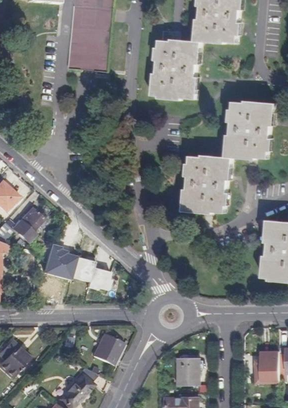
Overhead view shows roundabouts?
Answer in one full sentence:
Yes, the picture does show a roundabout.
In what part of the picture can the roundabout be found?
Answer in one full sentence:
You can find the roundabout in the bottom area of the picture.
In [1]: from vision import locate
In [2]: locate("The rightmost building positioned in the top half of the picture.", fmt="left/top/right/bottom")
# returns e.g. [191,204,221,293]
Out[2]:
[221,99,277,163]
